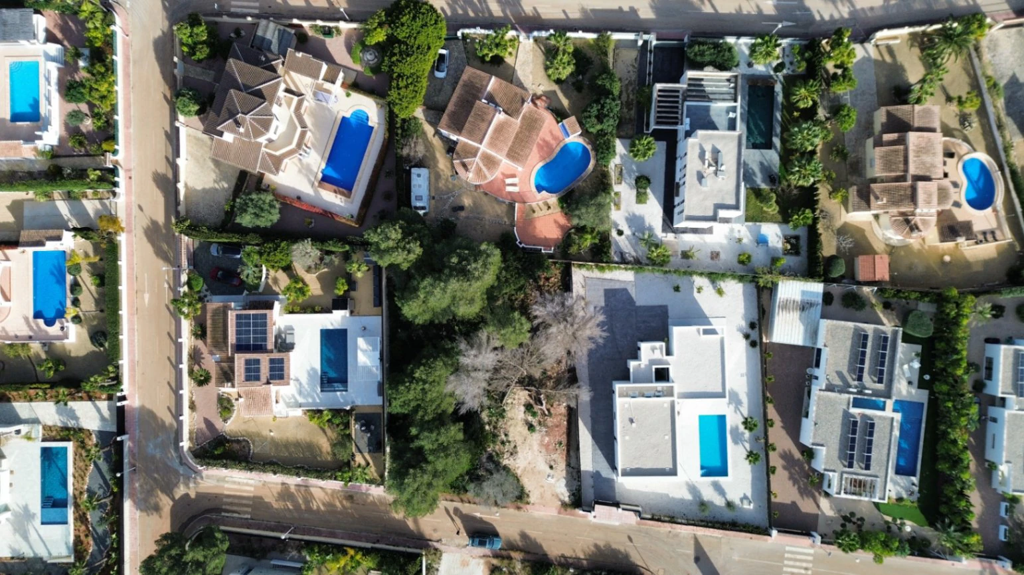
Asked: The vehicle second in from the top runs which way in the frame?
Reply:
from top to bottom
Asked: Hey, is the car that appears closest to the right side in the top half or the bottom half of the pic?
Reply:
bottom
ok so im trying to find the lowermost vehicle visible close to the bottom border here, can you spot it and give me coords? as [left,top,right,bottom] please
[467,532,502,552]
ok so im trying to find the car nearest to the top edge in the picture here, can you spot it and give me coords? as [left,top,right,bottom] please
[433,47,449,79]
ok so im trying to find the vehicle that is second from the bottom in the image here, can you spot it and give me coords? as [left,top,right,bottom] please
[210,266,242,287]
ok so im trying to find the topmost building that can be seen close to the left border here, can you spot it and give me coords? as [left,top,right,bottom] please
[0,9,61,51]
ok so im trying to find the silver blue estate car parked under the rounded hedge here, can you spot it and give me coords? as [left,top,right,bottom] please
[210,242,243,259]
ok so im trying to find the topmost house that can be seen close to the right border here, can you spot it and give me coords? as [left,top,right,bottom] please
[841,105,975,244]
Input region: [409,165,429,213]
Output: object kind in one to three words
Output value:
vehicle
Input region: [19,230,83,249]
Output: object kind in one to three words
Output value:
building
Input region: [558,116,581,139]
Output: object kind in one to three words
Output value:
shed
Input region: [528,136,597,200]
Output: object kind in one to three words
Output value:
swimming pool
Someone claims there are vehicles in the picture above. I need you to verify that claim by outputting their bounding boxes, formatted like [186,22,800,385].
[433,47,449,79]
[409,165,429,213]
[210,266,242,287]
[210,242,243,259]
[467,532,502,552]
